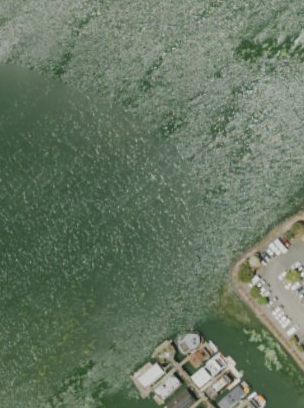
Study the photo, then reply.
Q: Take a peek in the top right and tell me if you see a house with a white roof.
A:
No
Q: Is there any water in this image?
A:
Yes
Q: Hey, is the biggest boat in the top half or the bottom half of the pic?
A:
bottom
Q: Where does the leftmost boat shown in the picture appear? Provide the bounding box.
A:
[180,332,204,354]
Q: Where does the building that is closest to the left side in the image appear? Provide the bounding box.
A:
[130,360,164,396]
